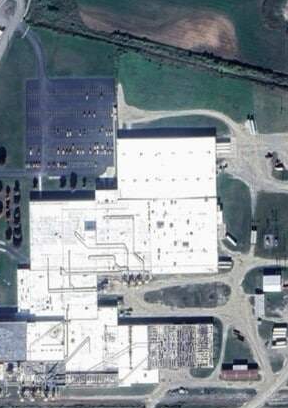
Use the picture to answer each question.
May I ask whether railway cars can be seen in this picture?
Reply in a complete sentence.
No, I can see no railway car in this picture.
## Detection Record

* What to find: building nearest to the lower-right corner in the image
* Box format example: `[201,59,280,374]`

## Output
[222,363,258,381]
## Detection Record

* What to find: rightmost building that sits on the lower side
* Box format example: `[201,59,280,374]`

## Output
[263,275,281,292]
